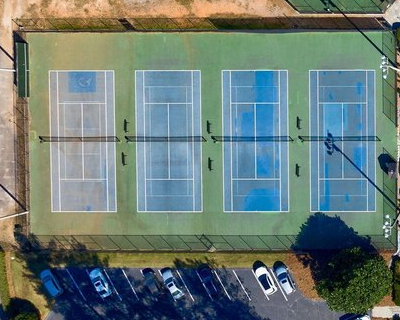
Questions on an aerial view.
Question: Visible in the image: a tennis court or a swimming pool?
tennis court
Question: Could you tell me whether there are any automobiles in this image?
Yes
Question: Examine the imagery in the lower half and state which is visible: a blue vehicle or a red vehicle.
blue vehicle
